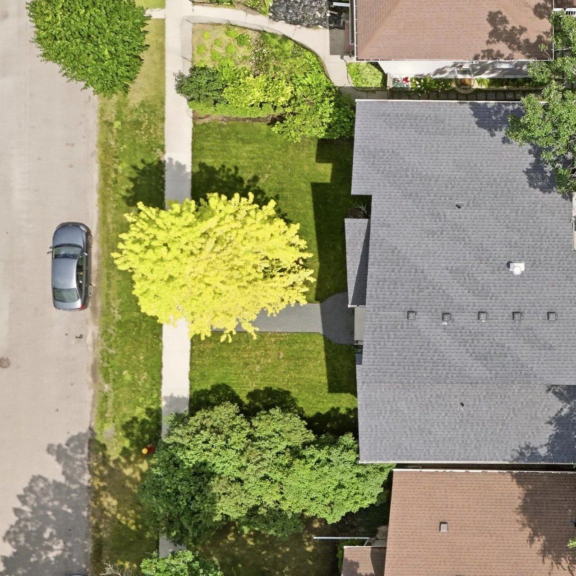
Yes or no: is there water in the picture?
No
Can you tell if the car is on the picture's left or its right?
left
